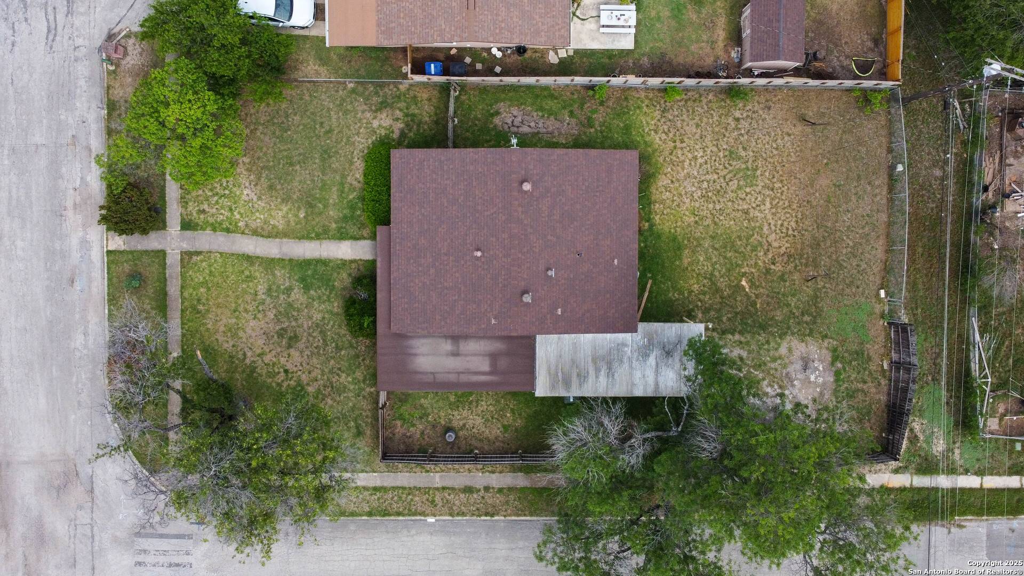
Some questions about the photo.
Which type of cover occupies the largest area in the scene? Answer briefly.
grass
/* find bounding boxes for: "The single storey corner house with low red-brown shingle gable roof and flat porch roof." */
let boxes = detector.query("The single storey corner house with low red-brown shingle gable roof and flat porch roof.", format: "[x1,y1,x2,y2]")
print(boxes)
[377,146,639,392]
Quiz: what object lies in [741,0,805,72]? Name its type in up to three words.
shed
